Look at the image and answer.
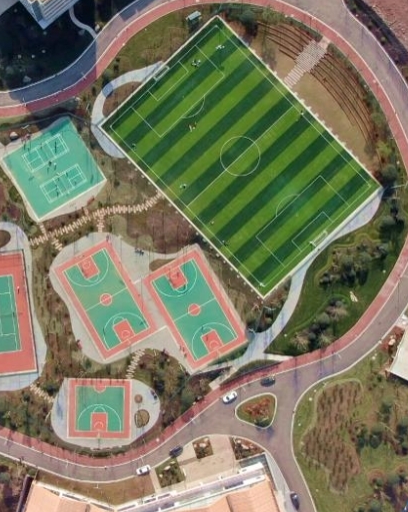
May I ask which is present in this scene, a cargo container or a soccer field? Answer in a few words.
soccer field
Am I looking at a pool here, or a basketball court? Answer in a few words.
basketball court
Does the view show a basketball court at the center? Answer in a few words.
Yes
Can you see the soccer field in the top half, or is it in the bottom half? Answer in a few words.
top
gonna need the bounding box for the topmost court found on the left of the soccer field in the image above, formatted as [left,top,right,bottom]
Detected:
[2,116,106,221]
